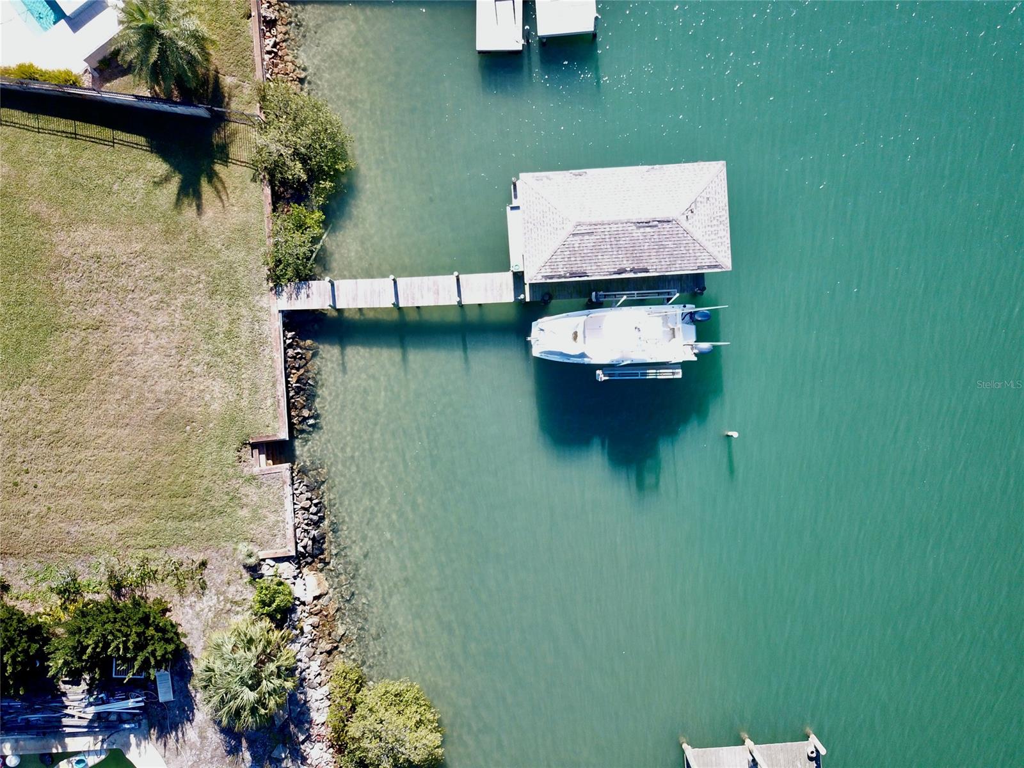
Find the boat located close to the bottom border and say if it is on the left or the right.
left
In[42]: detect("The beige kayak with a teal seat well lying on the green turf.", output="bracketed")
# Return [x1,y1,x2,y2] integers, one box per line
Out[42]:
[60,748,111,768]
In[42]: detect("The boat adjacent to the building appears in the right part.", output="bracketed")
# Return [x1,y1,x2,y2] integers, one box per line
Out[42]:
[526,304,731,365]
